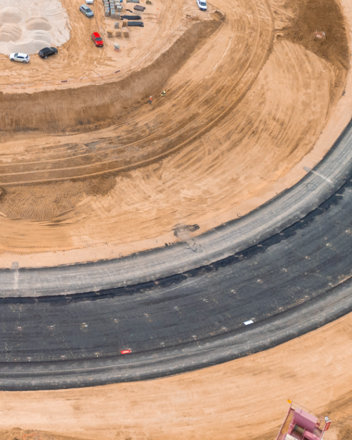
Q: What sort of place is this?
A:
sports ground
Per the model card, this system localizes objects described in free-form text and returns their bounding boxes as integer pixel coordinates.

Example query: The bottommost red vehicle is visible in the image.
[89,30,104,45]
